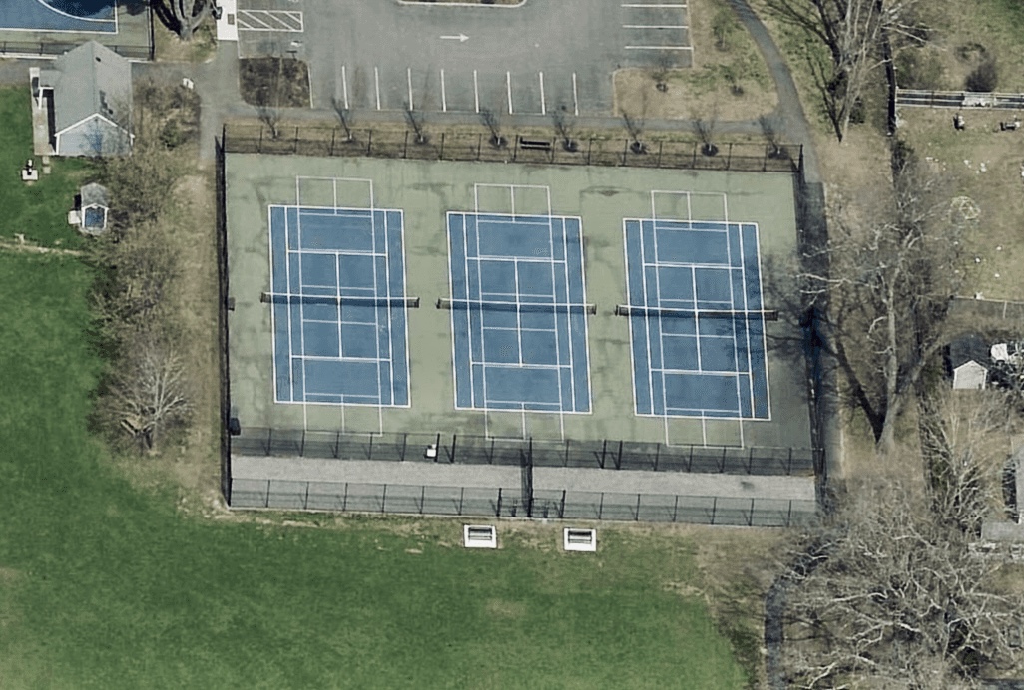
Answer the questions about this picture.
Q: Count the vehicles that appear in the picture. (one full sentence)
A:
The picture shows no vehicles.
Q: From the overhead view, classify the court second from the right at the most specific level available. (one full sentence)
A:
The court second from the right in the image is a tennis court.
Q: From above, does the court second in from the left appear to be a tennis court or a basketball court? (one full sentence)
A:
I'd say the court second in from the left is a tennis court.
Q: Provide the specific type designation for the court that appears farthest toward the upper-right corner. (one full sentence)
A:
What you see as the court that appears farthest toward the upper-right corner is a tennis court.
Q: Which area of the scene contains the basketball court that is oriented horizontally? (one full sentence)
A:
You can find the basketball court that is oriented horizontally in the top left area of the picture.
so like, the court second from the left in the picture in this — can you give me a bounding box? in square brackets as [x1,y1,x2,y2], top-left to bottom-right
[269,177,411,437]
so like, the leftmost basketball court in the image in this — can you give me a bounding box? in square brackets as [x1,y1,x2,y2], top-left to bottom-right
[0,0,152,60]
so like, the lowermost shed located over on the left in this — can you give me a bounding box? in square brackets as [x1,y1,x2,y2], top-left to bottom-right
[82,184,110,234]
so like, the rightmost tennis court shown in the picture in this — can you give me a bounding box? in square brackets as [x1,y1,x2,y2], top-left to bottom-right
[624,190,771,450]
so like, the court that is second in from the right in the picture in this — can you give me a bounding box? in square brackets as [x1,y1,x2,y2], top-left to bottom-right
[447,184,592,443]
